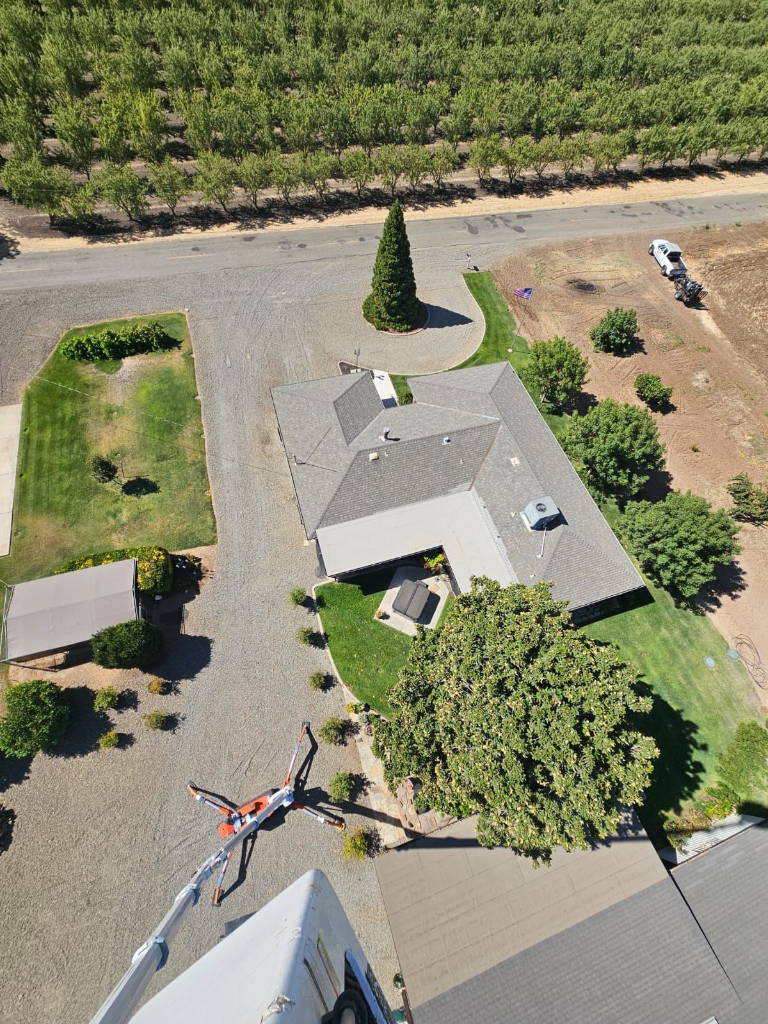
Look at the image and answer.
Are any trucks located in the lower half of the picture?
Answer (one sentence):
No, there's no truck to be seen in the lower half of the picture.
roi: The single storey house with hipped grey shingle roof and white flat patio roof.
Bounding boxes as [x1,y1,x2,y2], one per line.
[269,360,644,635]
